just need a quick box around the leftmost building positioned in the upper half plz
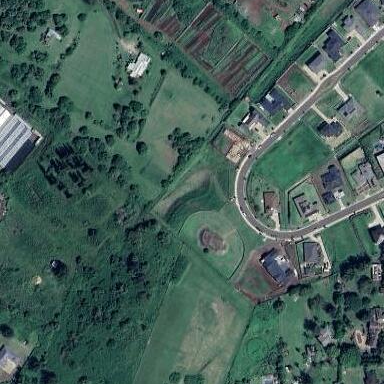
[0,107,37,175]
